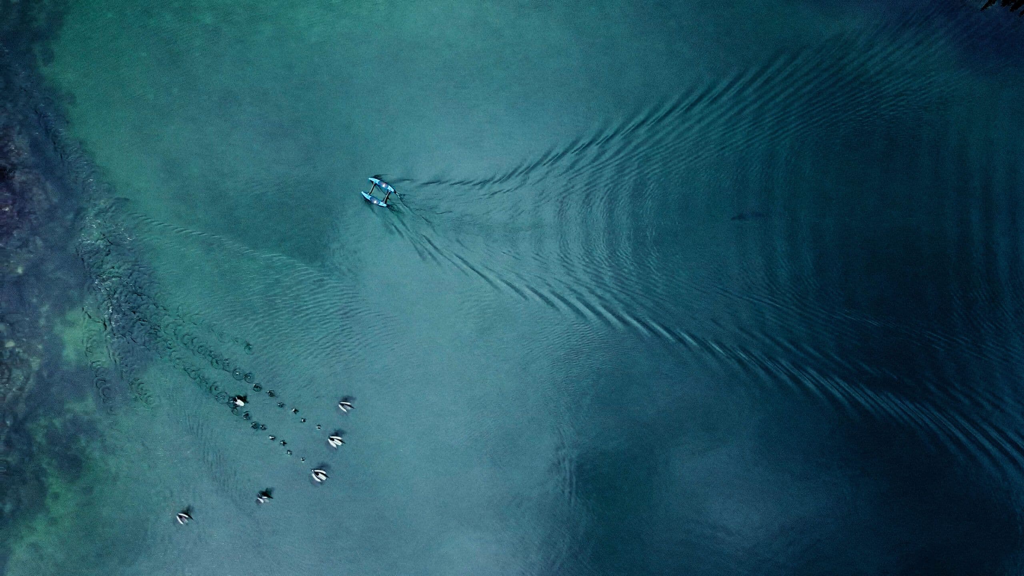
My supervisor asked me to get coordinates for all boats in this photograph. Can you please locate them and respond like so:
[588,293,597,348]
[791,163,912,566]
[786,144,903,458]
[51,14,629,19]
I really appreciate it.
[361,177,400,206]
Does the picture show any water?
Yes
